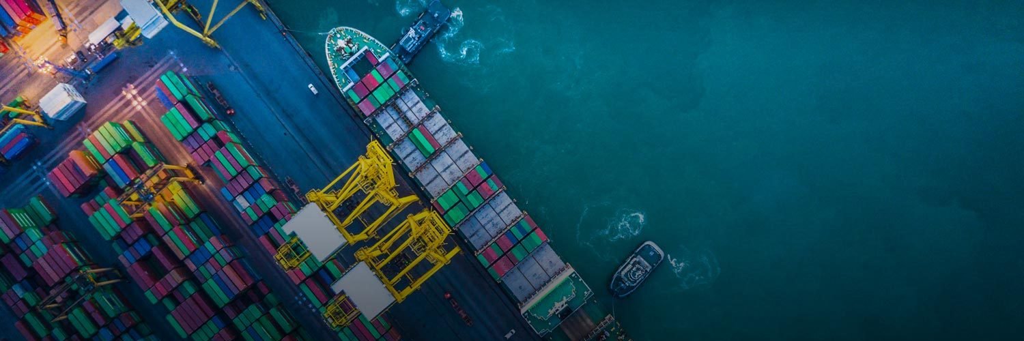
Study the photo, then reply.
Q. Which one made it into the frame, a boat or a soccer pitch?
boat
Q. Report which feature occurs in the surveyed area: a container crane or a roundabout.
container crane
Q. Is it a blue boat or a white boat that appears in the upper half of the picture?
blue boat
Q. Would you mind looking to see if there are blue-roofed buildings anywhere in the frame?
No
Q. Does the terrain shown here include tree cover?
No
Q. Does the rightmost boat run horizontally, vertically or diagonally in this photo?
diagonally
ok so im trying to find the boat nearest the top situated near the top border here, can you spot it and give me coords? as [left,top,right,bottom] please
[392,0,451,60]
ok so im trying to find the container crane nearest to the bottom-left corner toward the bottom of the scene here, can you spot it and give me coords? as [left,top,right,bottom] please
[31,262,125,329]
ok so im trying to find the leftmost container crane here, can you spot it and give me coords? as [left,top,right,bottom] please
[0,106,52,141]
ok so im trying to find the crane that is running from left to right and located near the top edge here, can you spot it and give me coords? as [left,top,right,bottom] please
[116,0,264,49]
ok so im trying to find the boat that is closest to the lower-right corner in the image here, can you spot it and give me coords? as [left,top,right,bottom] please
[612,237,666,295]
